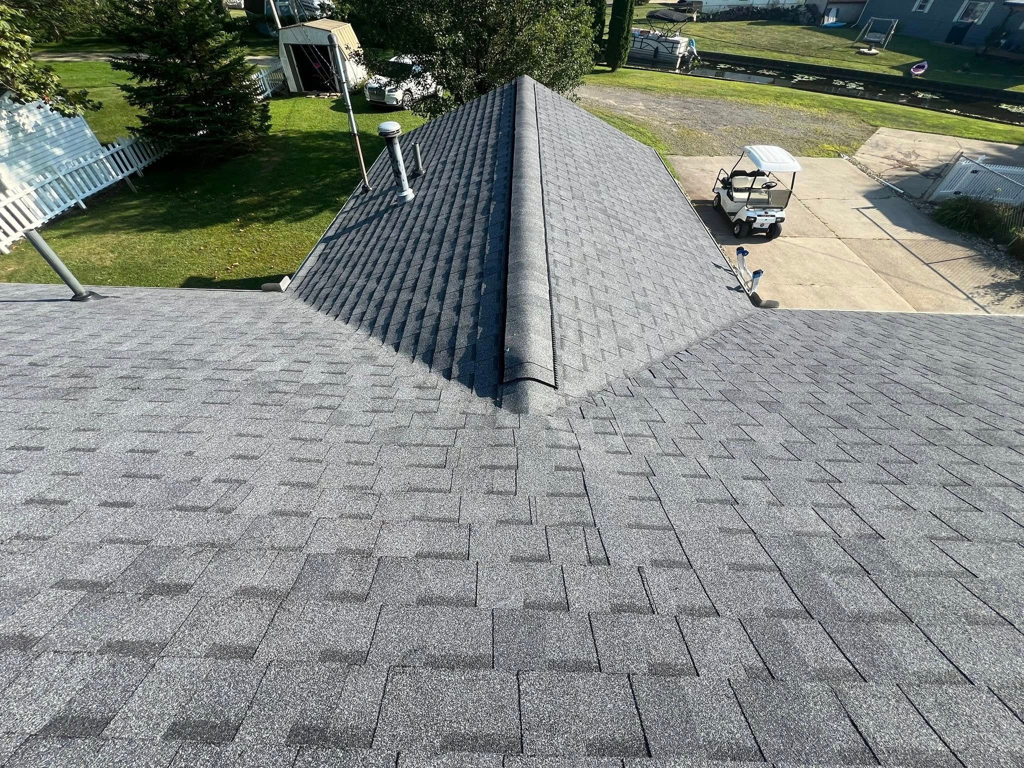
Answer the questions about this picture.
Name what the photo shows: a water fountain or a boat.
boat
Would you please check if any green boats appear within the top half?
No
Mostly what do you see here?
buildings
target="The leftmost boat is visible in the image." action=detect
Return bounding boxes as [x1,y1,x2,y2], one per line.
[629,10,693,65]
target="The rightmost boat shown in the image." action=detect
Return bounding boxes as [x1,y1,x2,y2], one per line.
[906,53,929,76]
